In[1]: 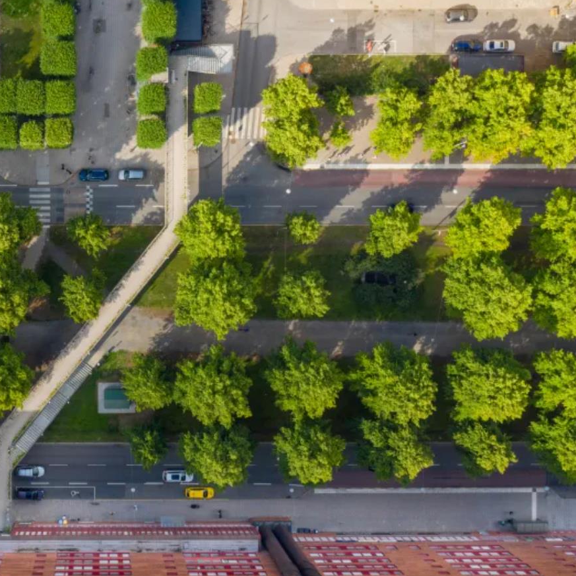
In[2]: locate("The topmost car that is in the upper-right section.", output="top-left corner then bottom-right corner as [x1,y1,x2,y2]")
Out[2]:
[445,6,476,22]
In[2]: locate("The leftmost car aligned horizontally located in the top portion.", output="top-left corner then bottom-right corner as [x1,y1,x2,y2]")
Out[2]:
[79,167,109,181]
